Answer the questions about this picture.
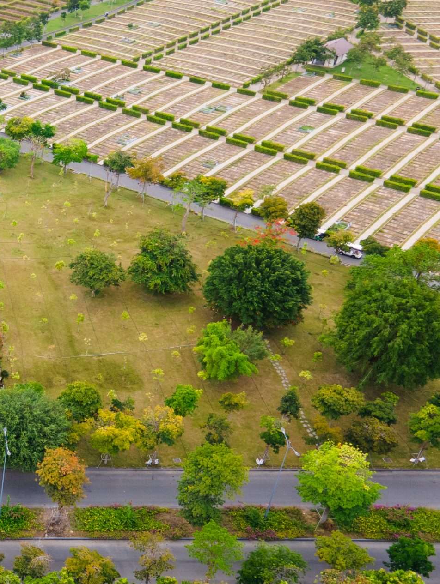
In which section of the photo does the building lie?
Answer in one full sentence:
Look in the top right portion of the view to spot the building.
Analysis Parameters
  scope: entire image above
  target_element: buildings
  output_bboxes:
[315,40,363,73]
